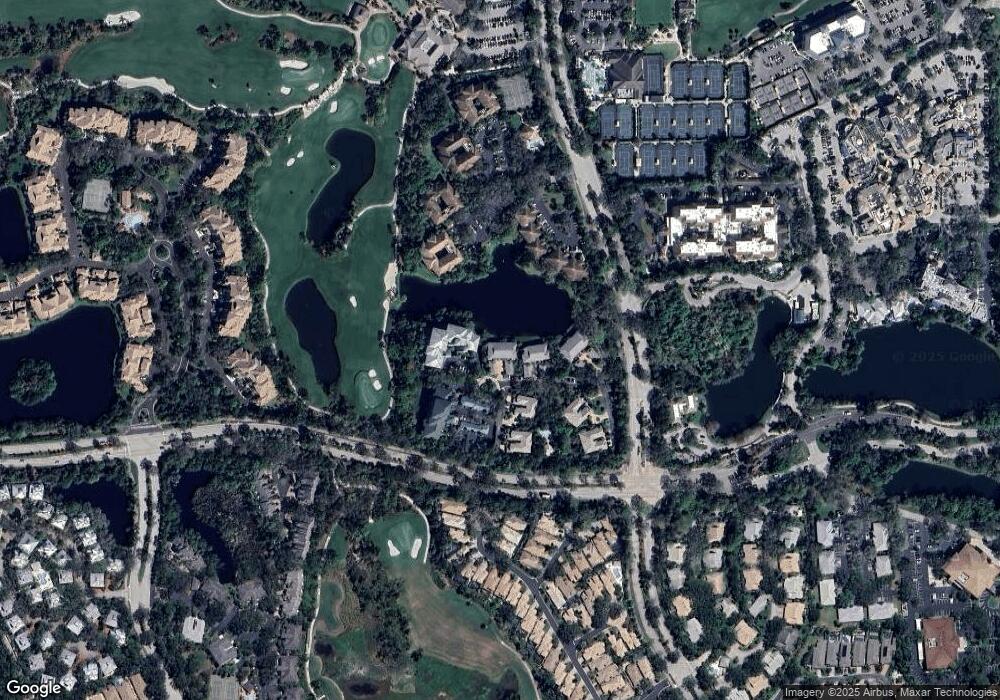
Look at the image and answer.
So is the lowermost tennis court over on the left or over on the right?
left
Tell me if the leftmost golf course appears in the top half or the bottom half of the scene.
top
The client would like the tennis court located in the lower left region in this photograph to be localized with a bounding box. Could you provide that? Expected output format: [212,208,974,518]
[209,675,241,700]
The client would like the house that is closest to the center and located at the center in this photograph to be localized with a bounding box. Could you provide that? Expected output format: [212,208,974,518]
[487,342,517,375]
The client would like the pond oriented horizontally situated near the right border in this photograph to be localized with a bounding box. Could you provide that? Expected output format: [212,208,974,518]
[884,462,1000,503]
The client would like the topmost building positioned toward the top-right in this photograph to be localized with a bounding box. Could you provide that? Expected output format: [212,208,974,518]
[808,13,867,54]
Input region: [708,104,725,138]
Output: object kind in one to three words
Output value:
tennis court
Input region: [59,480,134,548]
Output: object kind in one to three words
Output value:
pond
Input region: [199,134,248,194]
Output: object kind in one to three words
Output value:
house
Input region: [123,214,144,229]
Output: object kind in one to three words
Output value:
swimming pool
